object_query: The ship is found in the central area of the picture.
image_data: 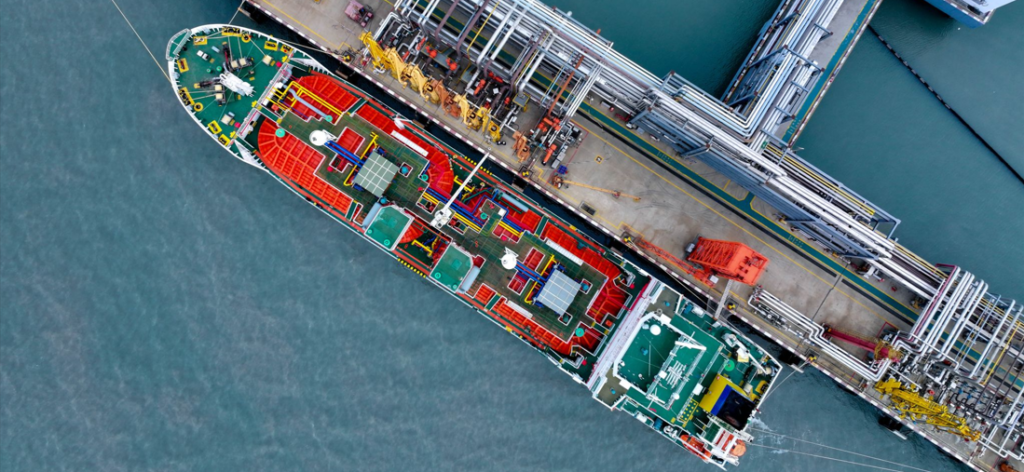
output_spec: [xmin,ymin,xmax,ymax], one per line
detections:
[163,24,782,472]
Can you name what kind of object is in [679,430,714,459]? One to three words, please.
boat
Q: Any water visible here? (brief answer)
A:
Yes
